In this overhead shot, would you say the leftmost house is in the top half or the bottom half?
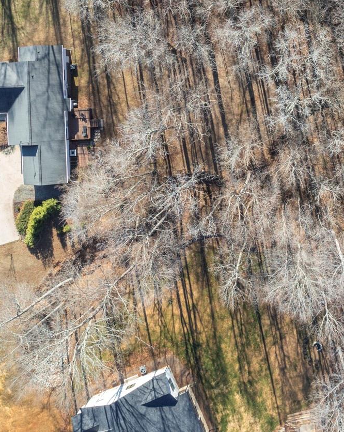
top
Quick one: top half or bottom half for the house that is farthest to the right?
bottom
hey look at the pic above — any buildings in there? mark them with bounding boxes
[70,366,204,432]
[0,44,76,186]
